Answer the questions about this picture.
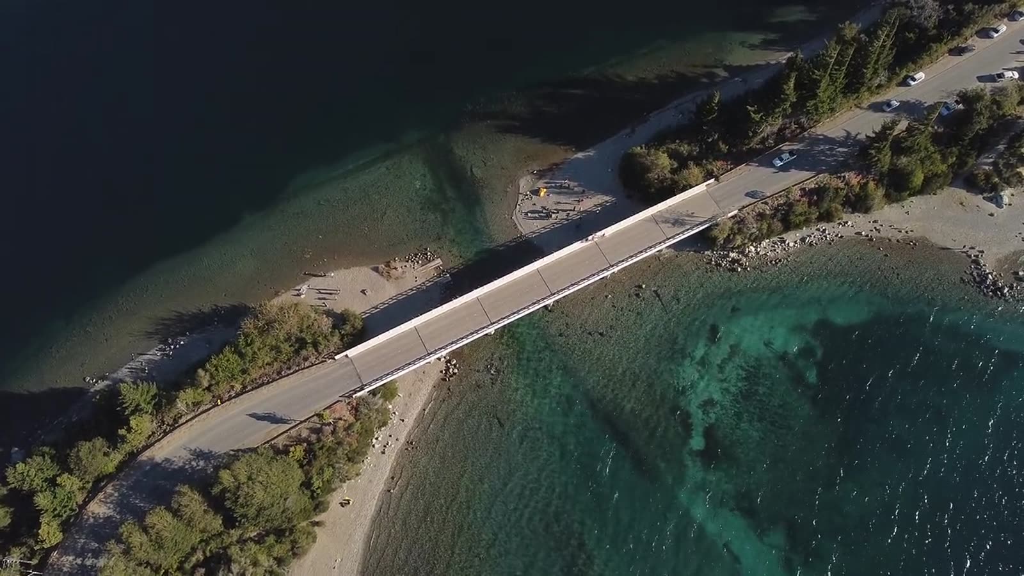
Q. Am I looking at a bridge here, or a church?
bridge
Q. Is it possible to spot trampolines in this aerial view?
No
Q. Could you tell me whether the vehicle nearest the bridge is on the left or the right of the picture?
right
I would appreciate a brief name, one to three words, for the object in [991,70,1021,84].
vehicle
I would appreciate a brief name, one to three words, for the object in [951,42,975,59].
car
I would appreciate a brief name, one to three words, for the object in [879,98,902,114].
car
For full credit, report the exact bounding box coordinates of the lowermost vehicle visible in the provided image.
[770,149,800,169]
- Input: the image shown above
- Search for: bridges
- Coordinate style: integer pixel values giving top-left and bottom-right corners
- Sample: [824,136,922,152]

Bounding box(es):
[332,175,743,394]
